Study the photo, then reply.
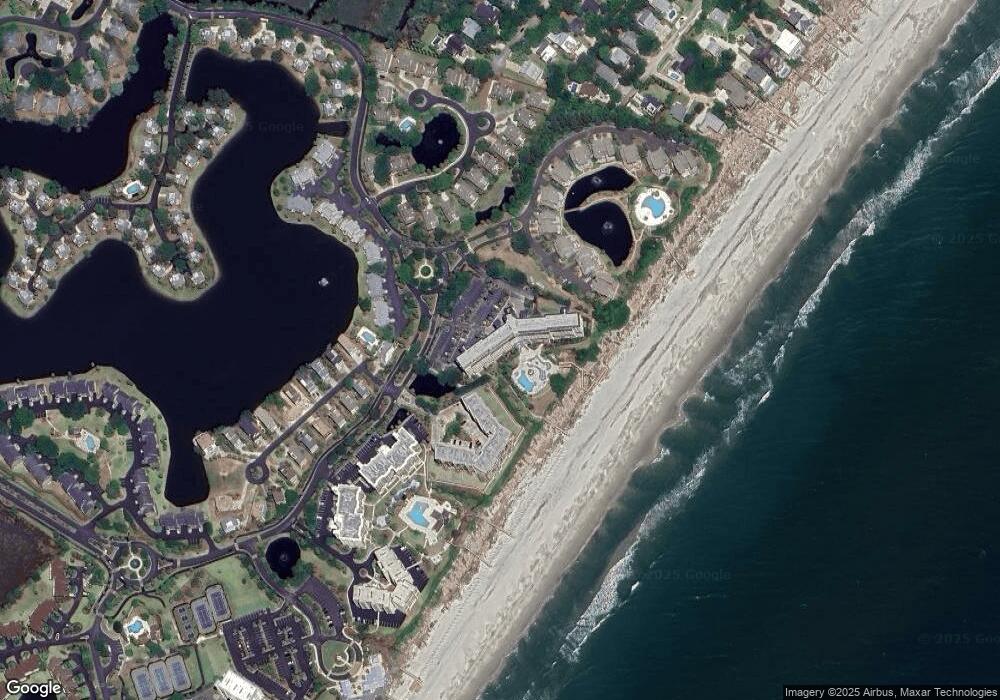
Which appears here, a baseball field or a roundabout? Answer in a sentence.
This aerial view contains a roundabout.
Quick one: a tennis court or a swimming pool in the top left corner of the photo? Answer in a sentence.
The one visible in the top left corner of the photo is a swimming pool.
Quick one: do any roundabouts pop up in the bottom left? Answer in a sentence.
Yes, looking in the bottom left, one can make out a roundabout.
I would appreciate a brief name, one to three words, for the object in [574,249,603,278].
house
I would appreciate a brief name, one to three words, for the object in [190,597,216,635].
tennis court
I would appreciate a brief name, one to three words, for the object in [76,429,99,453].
swimming pool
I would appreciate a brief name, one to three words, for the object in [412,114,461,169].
pond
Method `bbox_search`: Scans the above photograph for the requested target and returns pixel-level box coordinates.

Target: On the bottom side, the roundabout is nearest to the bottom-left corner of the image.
[111,539,159,587]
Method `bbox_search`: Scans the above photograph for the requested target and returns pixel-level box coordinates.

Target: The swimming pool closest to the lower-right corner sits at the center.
[510,342,562,397]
